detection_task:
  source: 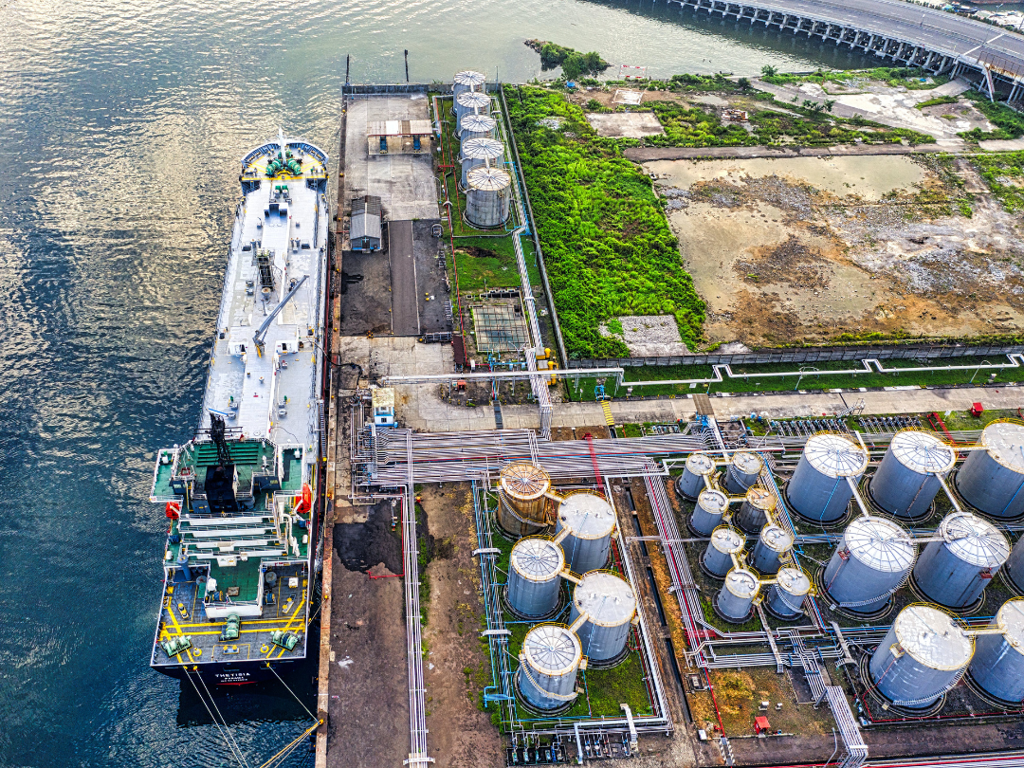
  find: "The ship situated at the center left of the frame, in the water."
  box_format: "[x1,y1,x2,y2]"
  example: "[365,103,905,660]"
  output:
[149,118,330,685]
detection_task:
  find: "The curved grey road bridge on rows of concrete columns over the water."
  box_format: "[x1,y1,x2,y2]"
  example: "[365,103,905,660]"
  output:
[604,0,1024,91]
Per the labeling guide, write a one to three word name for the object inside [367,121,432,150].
shed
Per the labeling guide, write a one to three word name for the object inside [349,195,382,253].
house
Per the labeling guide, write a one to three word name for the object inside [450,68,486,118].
storage tank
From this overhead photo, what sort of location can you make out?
industrial area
